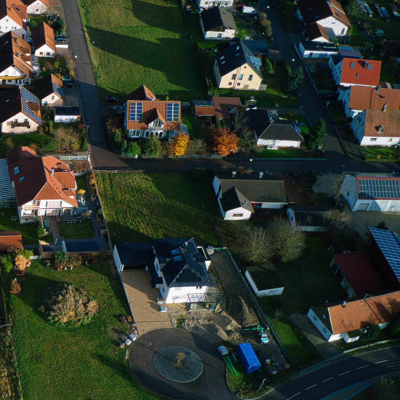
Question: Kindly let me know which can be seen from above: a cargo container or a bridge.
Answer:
cargo container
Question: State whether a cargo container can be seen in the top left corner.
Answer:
No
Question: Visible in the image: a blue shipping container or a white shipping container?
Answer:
blue shipping container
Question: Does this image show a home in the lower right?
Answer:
Yes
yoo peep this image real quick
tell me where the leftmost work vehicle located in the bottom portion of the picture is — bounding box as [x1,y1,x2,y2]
[258,318,272,343]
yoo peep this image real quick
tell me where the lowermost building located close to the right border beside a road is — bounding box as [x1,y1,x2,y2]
[311,290,400,346]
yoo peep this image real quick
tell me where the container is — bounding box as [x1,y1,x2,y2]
[236,340,265,373]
